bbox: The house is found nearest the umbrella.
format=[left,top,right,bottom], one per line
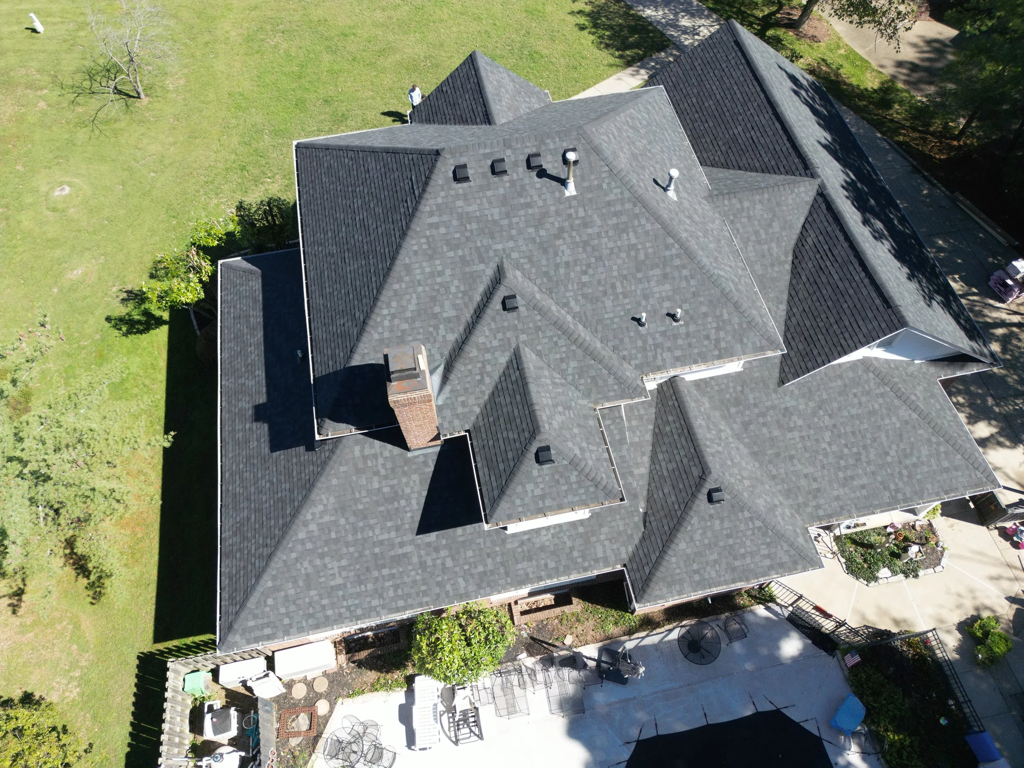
[217,17,1003,656]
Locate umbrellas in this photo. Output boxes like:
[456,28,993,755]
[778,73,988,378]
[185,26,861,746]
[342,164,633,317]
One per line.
[598,638,645,692]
